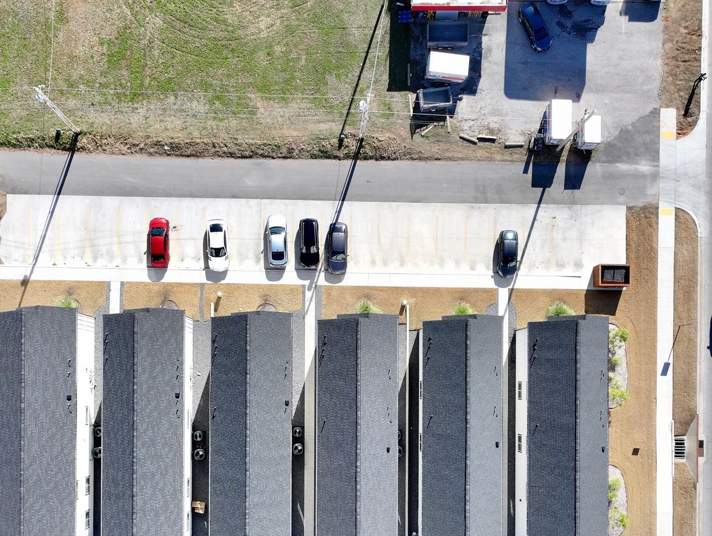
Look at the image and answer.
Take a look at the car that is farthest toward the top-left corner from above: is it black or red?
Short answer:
red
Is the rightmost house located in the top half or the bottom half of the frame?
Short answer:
bottom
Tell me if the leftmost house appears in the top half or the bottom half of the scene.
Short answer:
bottom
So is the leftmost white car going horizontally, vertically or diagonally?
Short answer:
vertically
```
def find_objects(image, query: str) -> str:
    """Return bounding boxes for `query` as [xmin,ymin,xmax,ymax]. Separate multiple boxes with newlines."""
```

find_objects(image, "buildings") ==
[100,306,193,536]
[0,305,95,536]
[410,0,508,23]
[209,308,293,536]
[419,313,504,536]
[515,313,610,536]
[316,312,399,536]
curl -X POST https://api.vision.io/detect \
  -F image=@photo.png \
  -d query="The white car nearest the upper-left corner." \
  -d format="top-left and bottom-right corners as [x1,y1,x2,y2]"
[205,220,229,272]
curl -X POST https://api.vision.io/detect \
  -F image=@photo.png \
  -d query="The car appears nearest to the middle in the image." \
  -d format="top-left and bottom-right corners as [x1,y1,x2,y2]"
[326,223,350,275]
